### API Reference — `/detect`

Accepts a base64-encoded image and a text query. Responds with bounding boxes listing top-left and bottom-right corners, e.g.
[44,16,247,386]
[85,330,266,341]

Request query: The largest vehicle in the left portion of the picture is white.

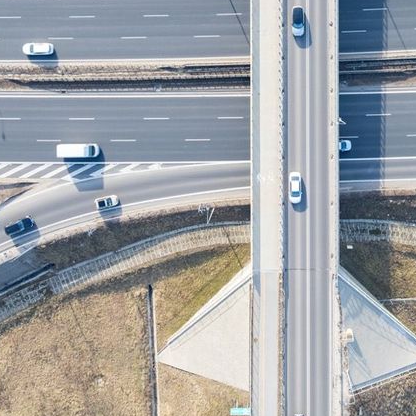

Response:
[55,143,102,159]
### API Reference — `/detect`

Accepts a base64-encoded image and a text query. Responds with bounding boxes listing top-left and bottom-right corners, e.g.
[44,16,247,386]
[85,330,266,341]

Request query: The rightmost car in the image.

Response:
[339,140,354,153]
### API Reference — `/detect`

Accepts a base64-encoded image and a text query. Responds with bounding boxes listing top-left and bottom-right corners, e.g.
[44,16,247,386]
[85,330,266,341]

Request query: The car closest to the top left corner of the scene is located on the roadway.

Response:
[25,42,54,56]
